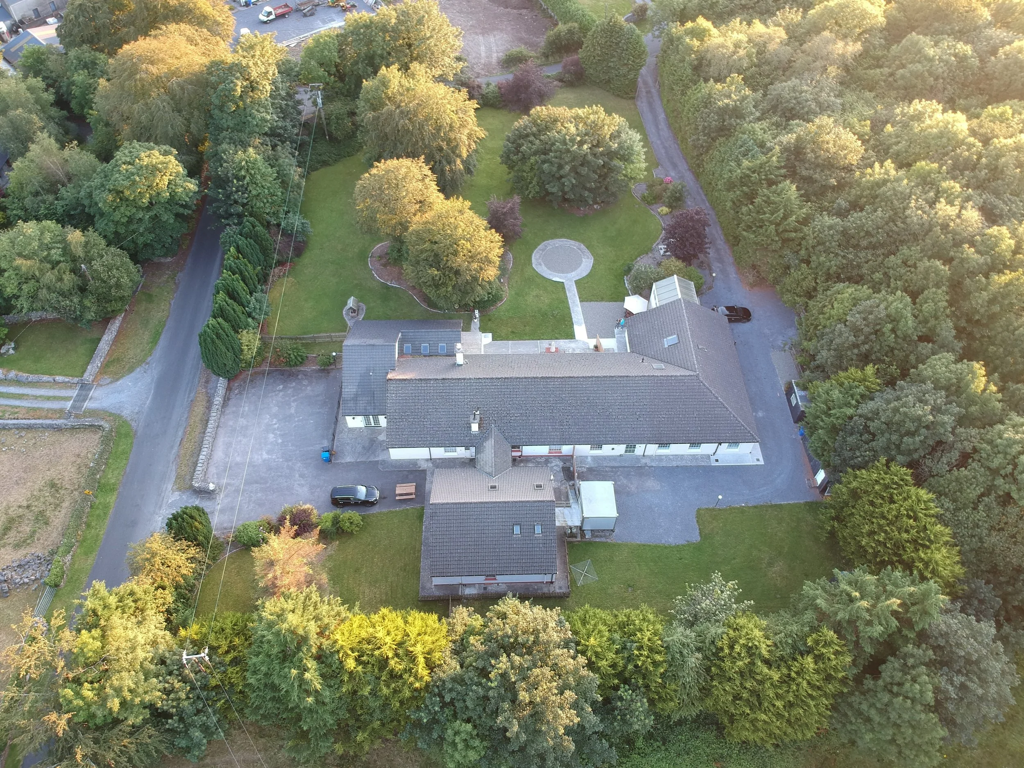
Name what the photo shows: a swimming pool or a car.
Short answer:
car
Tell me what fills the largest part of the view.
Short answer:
trees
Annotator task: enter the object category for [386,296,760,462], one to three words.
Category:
house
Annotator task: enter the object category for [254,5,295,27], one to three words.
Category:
truck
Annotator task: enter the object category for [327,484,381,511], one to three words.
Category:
car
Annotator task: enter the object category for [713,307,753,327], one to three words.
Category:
car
